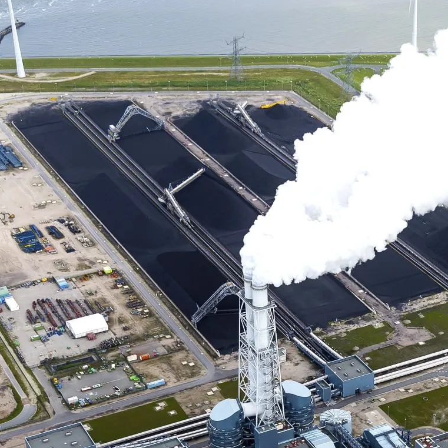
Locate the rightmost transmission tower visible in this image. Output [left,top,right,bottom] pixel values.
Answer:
[348,51,365,96]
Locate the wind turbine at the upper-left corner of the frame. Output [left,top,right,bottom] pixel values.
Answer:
[3,0,29,79]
